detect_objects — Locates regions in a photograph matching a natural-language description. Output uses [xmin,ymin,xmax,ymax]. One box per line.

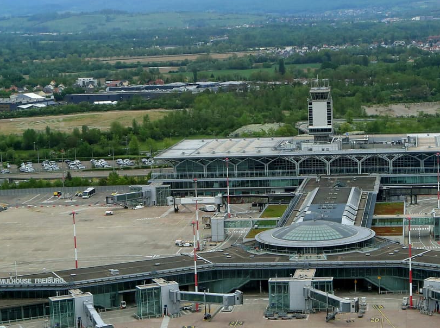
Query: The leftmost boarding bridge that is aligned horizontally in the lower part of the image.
[105,189,146,206]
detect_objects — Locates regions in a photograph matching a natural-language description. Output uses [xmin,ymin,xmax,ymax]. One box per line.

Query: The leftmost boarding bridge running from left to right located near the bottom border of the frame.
[171,288,244,318]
